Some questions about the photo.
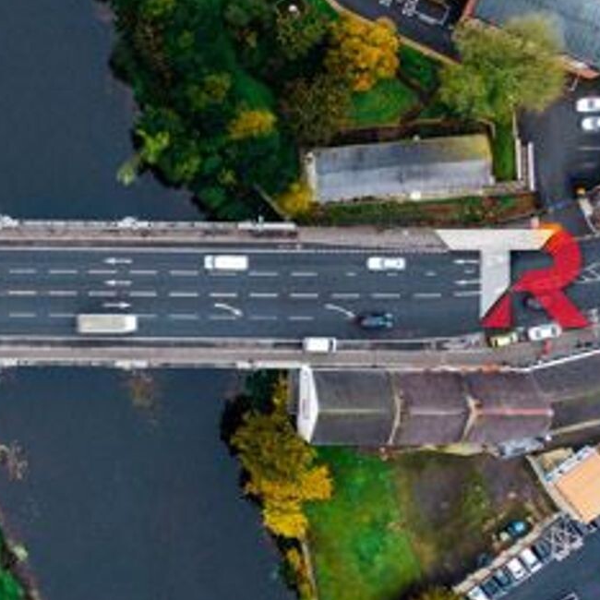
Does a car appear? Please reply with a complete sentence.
Yes, looking at the shot, I can spot a car.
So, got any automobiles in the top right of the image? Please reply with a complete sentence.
Yes, you'll find an automobile in the top right of the image.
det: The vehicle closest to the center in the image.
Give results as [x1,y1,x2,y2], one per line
[300,336,332,354]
